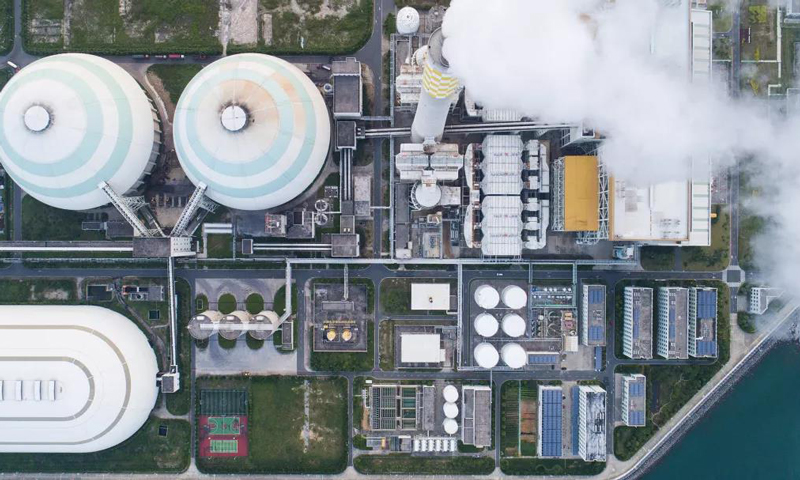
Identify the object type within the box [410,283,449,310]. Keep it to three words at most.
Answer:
building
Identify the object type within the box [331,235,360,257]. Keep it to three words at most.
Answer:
house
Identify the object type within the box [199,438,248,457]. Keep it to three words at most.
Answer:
sports court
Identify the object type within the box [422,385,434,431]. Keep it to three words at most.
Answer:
house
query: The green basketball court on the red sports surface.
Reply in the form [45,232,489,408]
[199,416,248,438]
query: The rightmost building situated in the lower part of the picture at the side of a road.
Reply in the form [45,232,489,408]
[750,286,787,314]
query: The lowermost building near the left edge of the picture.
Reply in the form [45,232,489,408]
[0,304,162,453]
